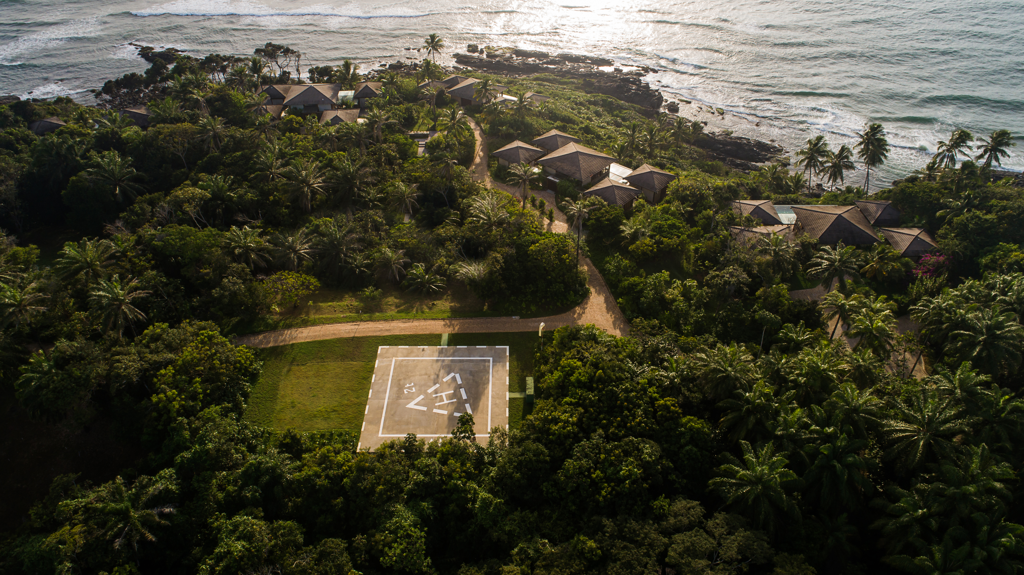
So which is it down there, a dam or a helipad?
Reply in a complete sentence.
The one in the frame is a helipad.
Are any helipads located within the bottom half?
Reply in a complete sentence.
Yes, I can see a helipad within the bottom half.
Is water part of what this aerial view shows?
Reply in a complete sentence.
Yes, there's water in this view.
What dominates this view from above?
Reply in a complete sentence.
The bulk of the photo consists of trees.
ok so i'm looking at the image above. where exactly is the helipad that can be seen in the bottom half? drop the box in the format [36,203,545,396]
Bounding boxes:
[358,346,509,453]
